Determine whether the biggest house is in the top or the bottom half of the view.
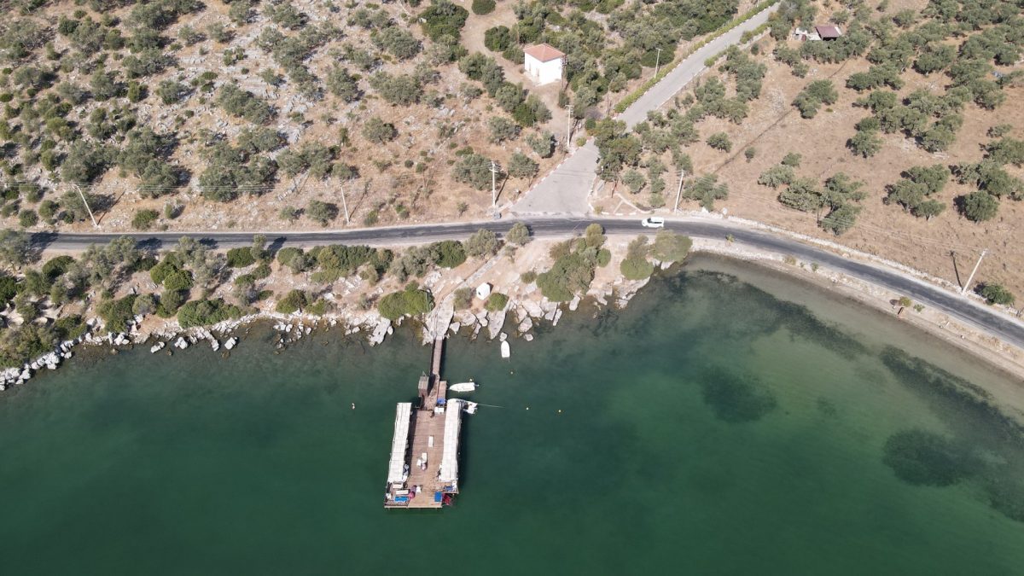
top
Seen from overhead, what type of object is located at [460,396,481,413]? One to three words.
boat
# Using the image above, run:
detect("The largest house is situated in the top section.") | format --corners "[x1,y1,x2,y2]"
[518,45,564,88]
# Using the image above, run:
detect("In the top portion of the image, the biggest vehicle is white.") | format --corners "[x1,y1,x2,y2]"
[642,215,664,227]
